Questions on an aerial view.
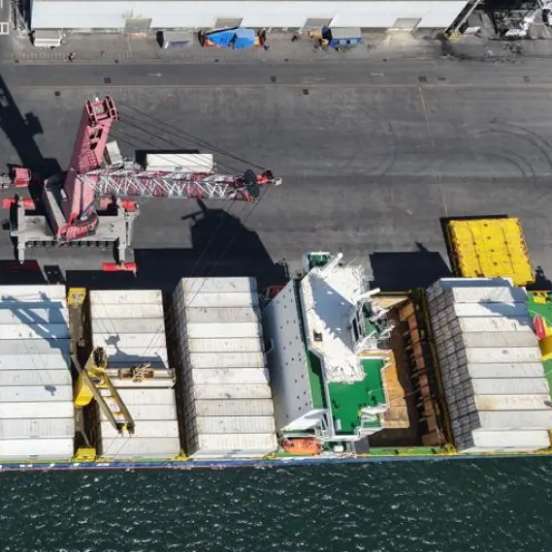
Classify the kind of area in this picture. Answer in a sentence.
It's a port.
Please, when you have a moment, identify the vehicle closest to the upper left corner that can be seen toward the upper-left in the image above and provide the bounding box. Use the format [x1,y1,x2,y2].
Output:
[27,27,60,47]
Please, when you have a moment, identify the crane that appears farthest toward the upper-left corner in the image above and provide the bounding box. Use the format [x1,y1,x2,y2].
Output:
[10,97,286,377]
